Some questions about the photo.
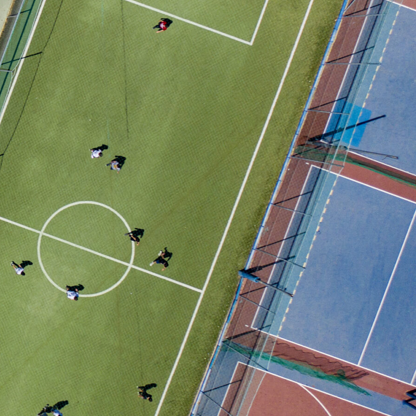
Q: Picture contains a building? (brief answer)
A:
No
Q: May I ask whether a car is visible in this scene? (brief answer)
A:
No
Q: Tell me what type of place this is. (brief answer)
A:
sports ground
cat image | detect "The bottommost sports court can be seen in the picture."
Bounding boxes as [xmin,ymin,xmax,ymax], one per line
[196,346,416,416]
